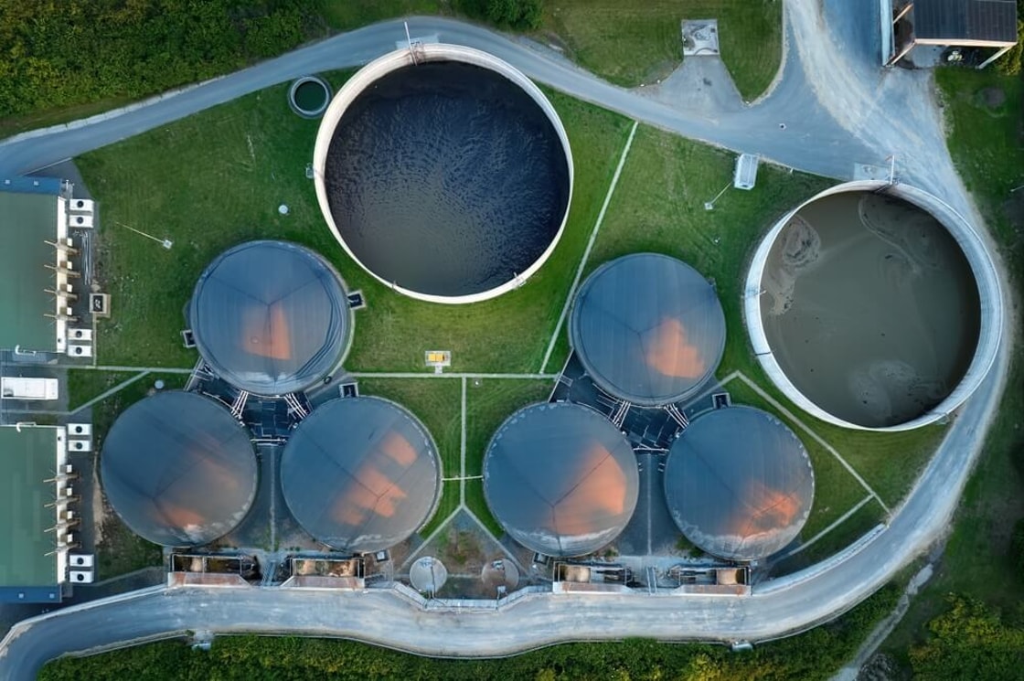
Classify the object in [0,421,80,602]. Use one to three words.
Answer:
building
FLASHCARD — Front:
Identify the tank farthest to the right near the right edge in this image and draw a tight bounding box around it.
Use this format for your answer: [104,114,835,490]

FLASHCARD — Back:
[745,155,1003,429]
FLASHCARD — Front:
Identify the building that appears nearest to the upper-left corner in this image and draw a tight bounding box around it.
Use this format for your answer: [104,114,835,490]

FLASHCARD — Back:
[0,178,80,362]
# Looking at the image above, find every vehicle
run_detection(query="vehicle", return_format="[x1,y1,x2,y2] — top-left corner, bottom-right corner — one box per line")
[2,374,72,401]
